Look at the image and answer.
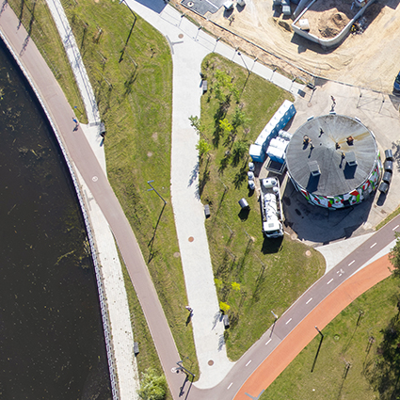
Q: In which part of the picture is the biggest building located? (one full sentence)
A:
You can find the biggest building in the right area of the picture.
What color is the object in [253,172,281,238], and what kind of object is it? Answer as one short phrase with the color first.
white truck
